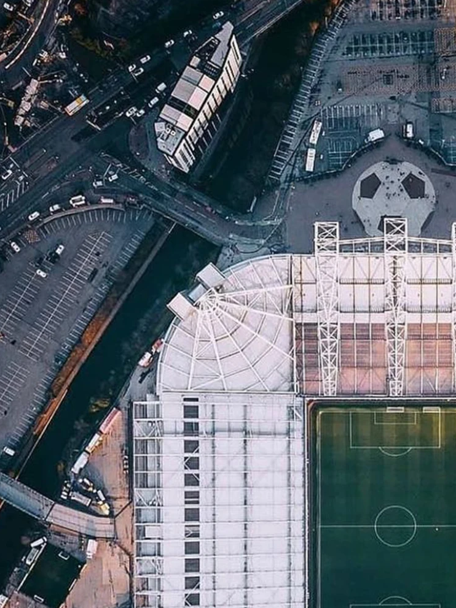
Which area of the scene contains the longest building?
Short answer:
top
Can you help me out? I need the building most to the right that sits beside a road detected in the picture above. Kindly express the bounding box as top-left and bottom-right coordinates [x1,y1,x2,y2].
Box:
[154,20,242,175]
